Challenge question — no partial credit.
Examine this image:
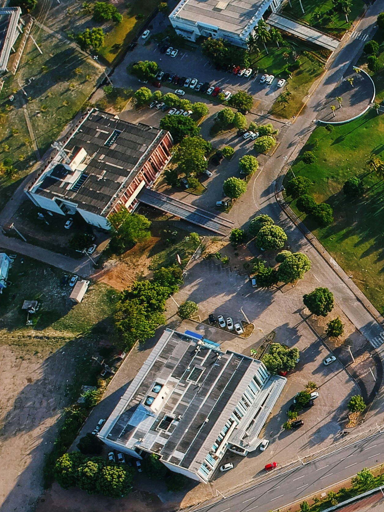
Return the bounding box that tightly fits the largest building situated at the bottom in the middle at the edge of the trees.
[96,328,271,486]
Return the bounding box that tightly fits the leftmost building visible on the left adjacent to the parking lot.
[28,108,174,228]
